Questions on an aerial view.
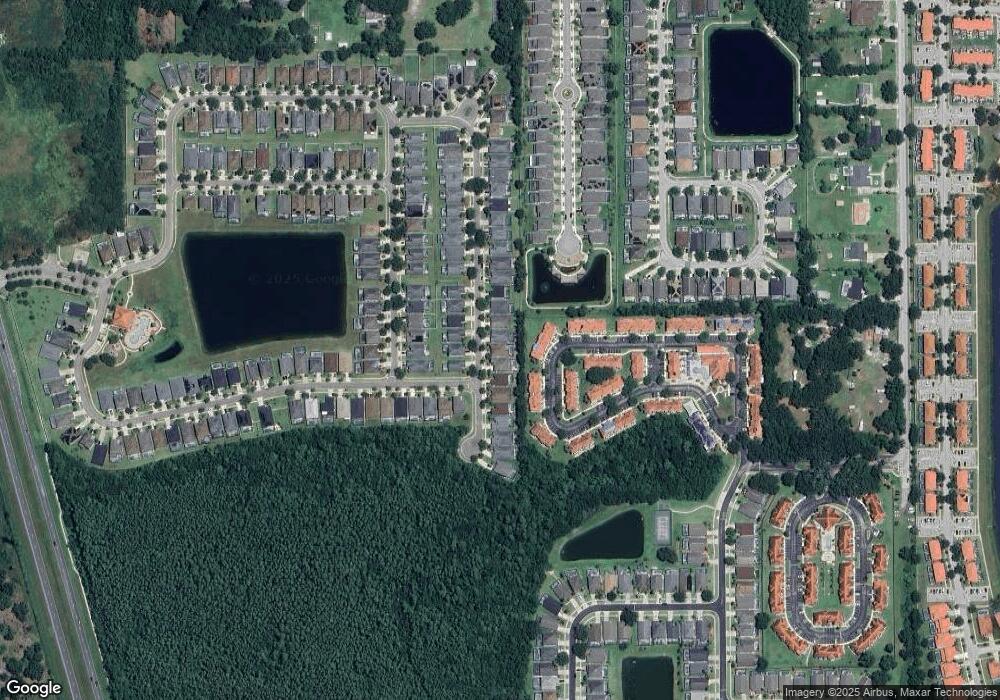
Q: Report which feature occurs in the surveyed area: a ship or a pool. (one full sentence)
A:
The image shows a pool.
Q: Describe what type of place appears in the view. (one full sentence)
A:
The picture captures a residential area.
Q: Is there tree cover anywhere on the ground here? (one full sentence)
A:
Yes, the picture does contain tree cover.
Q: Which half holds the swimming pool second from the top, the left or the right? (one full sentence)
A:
You can find the swimming pool second from the top on the right side of the picture.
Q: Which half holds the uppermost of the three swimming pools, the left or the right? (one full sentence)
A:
The uppermost of the three swimming pools is on the left side of the image.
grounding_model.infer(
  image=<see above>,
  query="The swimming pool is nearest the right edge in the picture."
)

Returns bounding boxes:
[817,526,838,564]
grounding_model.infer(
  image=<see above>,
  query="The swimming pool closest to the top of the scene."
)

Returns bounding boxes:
[124,310,161,350]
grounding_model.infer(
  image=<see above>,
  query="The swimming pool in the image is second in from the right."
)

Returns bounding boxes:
[688,355,710,381]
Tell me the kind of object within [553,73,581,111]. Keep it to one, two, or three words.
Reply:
roundabout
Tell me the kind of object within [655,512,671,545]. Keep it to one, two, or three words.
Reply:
sports court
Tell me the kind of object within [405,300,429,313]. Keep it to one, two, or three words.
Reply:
house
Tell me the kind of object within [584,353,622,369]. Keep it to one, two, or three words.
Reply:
building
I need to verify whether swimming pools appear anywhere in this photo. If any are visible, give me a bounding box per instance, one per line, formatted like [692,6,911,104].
[817,526,838,564]
[688,355,710,381]
[124,310,161,350]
